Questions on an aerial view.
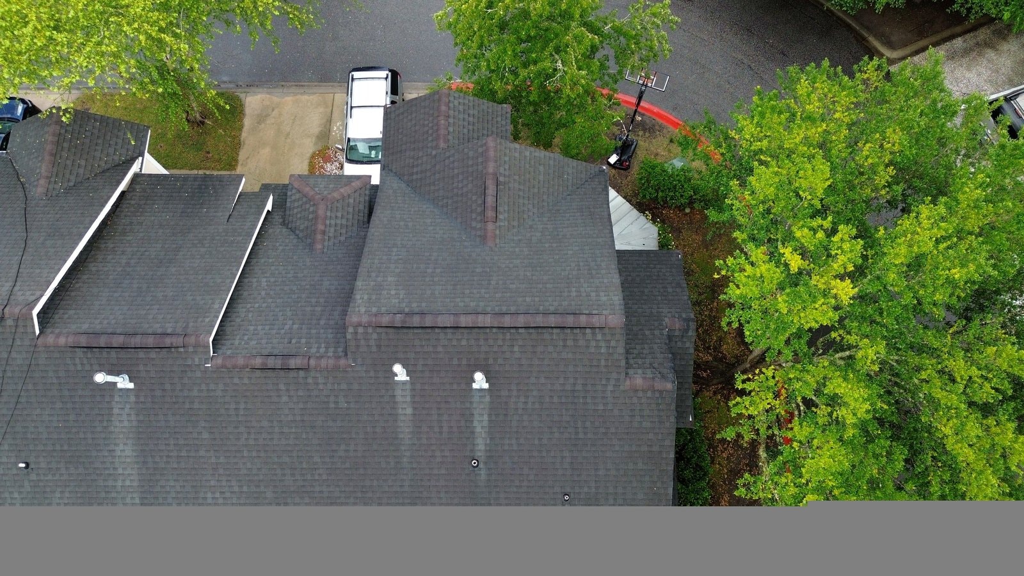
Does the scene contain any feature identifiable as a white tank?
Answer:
No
